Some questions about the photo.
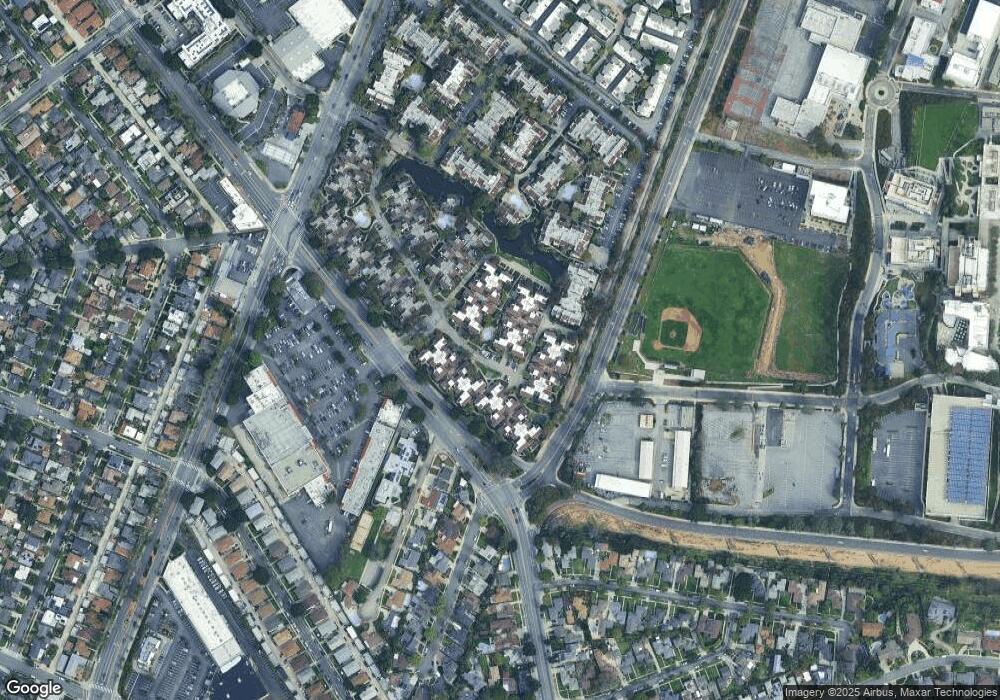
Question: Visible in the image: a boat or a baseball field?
baseball field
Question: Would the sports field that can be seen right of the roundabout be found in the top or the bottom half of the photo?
top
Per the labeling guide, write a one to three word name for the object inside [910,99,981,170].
sports field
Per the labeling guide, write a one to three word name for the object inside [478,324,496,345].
swimming pool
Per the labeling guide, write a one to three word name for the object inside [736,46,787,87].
tennis court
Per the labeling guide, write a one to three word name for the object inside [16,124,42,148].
house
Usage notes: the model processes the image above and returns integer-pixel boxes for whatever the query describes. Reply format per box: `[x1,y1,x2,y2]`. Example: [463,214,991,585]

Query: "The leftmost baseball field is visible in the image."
[630,242,773,387]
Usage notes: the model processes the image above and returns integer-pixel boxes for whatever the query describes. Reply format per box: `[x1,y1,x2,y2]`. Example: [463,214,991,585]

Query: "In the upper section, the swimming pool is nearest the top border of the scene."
[401,70,427,94]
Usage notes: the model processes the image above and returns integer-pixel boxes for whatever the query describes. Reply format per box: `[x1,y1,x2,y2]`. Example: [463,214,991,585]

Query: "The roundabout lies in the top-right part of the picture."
[863,75,898,109]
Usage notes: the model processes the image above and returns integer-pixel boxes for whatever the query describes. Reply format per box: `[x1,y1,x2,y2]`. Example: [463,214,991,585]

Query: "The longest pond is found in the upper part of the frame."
[393,158,568,280]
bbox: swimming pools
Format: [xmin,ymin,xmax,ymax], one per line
[478,324,496,345]
[352,207,373,231]
[401,70,427,94]
[507,188,531,216]
[558,180,577,201]
[436,211,457,230]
